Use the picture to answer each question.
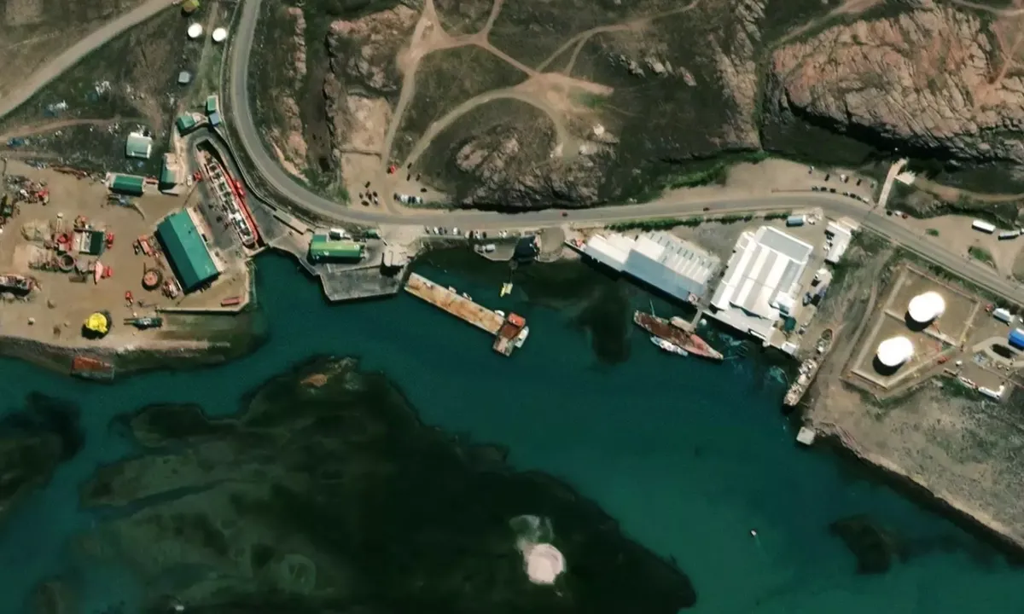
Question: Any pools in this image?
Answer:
No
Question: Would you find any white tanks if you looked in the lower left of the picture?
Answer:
No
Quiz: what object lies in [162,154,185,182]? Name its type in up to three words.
building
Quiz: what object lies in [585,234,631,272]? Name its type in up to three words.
building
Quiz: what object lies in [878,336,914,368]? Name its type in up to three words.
storage tank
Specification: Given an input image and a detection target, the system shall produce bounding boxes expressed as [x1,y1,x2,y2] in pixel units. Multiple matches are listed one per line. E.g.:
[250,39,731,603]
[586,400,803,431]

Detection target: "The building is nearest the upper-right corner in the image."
[824,221,855,263]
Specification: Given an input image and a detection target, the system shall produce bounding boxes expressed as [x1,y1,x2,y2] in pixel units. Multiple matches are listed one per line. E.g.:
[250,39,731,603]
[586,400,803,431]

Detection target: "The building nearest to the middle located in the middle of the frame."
[514,235,538,256]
